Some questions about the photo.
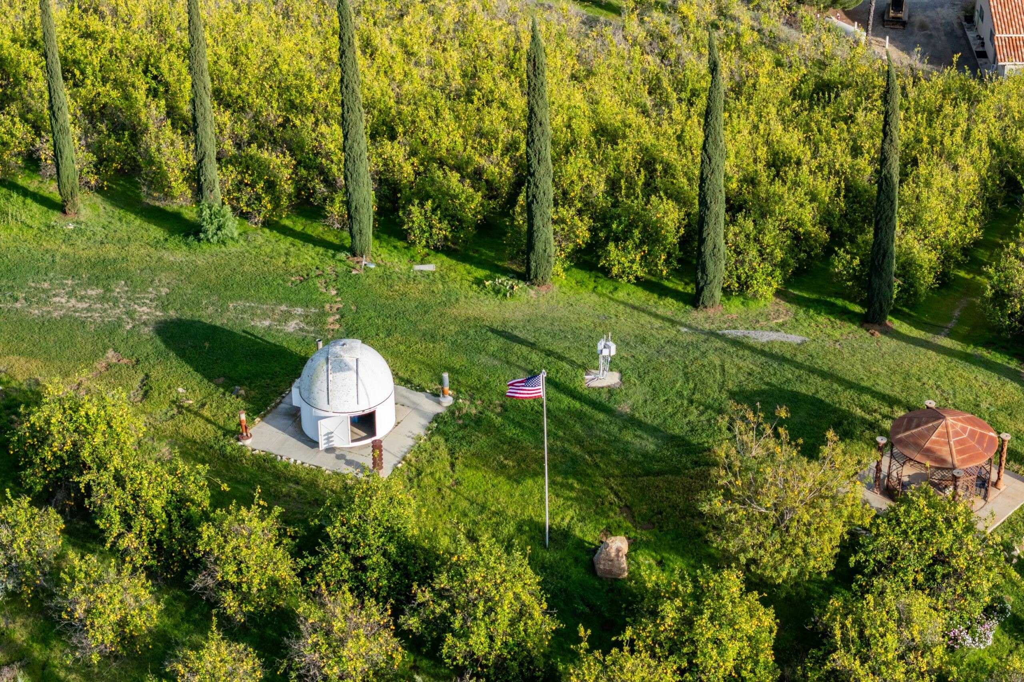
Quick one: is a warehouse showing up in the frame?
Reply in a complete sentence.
No, I find no warehouse anywhere in the image.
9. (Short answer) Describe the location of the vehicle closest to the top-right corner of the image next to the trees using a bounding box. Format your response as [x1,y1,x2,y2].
[884,0,907,29]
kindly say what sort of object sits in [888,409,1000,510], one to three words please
gazebo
